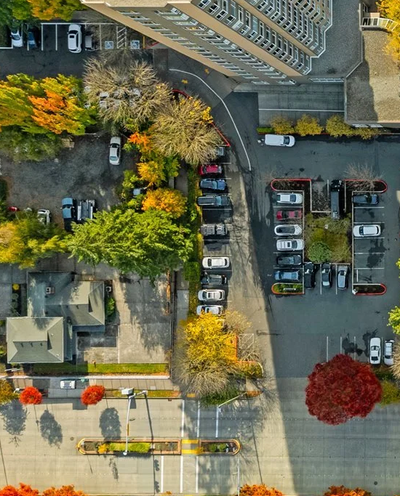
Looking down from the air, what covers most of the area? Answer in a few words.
paved ground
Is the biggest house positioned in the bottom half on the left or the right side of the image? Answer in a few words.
left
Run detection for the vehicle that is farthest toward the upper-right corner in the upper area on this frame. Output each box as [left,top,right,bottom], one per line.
[264,133,294,146]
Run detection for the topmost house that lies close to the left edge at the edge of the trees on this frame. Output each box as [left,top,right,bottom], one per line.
[6,271,113,363]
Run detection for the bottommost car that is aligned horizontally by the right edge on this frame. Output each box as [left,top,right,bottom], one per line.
[353,224,382,236]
